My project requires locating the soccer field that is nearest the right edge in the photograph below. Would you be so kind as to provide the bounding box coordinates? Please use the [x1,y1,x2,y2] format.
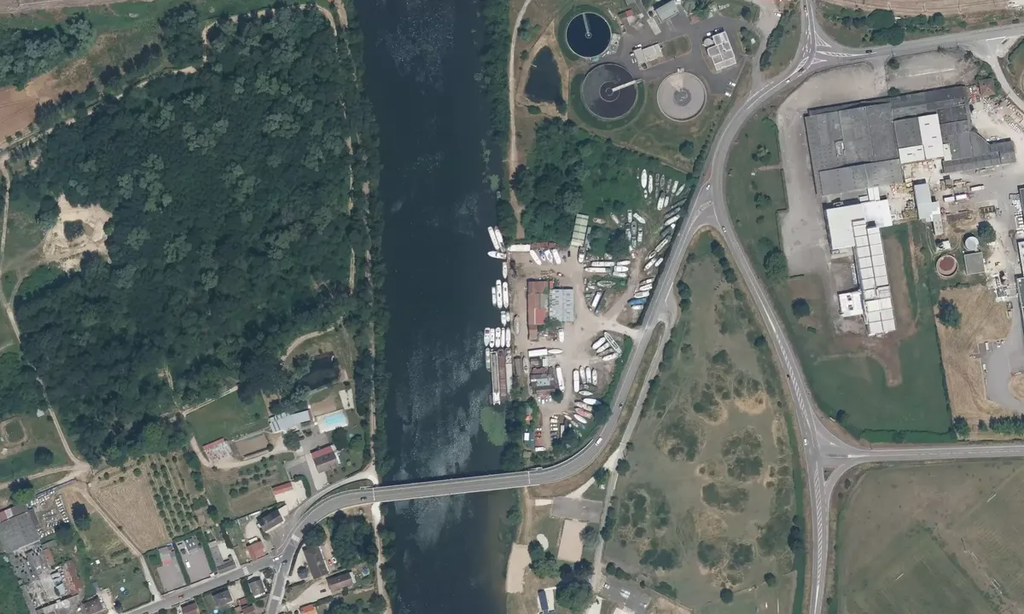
[955,473,1024,613]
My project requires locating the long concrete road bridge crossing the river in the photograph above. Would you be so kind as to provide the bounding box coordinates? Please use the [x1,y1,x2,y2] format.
[373,471,531,502]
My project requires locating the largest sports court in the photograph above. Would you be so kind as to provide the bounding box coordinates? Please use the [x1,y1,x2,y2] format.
[557,520,587,561]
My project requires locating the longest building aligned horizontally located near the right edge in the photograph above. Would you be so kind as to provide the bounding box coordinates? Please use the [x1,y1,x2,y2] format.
[804,84,1016,196]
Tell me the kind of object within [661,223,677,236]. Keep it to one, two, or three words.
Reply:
boat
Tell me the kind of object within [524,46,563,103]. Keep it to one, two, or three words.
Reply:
pond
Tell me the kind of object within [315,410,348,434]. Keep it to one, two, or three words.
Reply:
swimming pool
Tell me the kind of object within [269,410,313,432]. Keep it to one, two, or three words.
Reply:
house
